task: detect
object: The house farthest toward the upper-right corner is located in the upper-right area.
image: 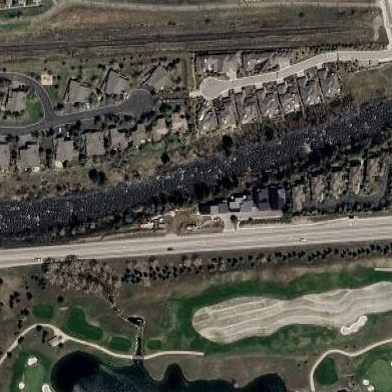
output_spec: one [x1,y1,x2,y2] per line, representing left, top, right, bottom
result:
[319,71,342,96]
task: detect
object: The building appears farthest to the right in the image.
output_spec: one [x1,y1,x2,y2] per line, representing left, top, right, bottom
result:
[364,159,384,186]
